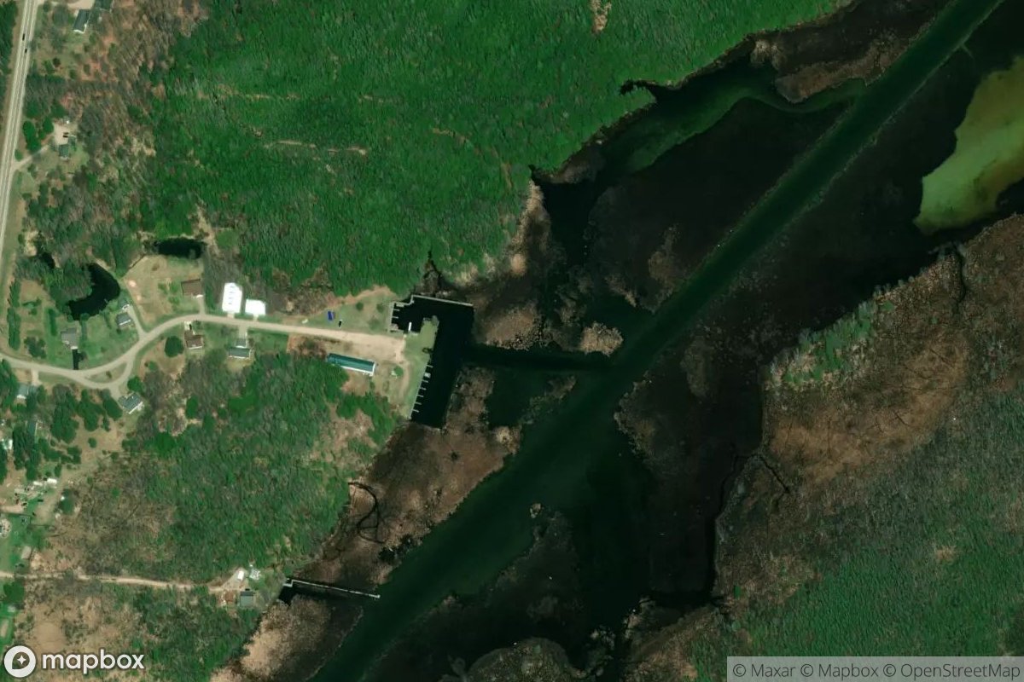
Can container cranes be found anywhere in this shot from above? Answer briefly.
No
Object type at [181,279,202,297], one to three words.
house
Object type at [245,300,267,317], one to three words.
building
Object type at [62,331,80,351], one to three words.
house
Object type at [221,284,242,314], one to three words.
building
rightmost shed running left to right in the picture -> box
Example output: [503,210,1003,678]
[327,354,376,375]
